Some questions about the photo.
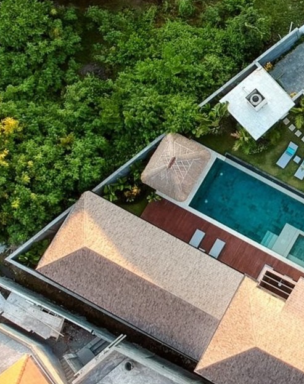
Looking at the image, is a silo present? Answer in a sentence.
No, this view has no silo in it.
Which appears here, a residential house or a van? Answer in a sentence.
This aerial view contains a residential house.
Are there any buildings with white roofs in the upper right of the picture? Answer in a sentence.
Yes, a building with a white roof is visible in the upper right of the picture.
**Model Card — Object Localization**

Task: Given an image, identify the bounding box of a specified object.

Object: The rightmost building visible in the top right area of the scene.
[220,64,295,140]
